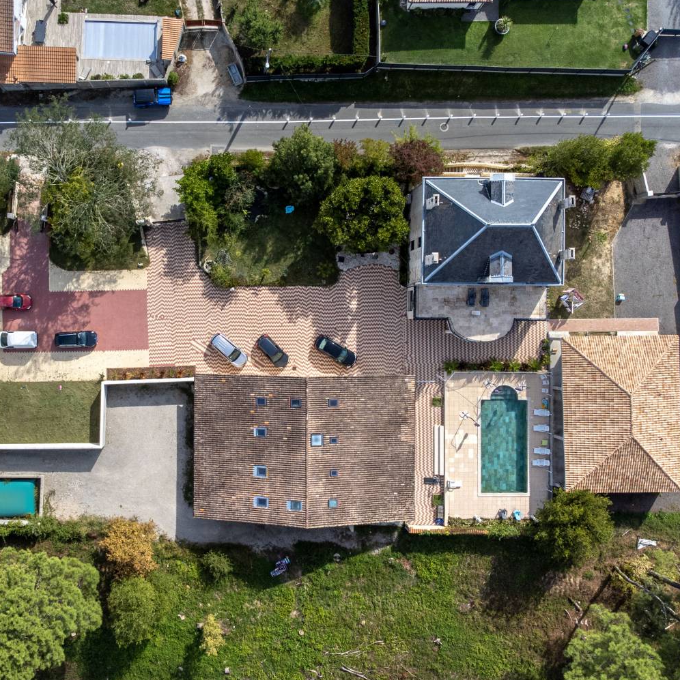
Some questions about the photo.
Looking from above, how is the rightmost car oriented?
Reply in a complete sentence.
In this picture, the rightmost car lies on a diagonal.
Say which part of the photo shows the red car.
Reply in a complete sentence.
The red car appears toward the left of the photo.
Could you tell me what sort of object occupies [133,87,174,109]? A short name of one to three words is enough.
car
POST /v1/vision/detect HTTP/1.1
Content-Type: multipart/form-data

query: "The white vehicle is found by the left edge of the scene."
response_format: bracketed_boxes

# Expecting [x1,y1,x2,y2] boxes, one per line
[0,330,39,352]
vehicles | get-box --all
[209,333,248,369]
[313,334,356,368]
[0,292,34,312]
[53,330,99,351]
[256,335,289,369]
[133,87,174,109]
[0,330,39,352]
